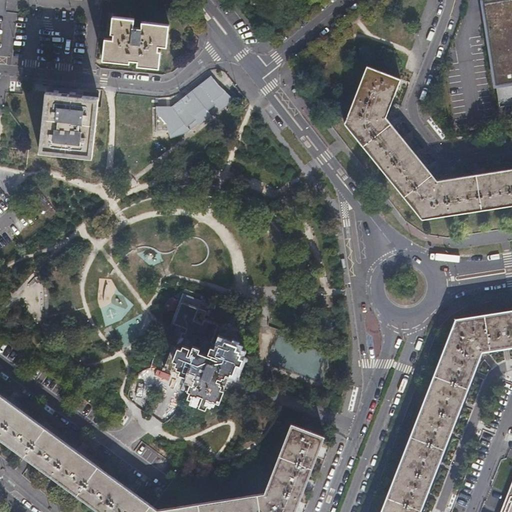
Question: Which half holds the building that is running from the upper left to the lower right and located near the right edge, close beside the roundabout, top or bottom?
top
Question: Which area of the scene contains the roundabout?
right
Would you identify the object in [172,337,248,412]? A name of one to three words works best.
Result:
house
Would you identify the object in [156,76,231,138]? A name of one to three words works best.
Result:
building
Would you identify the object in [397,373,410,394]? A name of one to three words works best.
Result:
vehicle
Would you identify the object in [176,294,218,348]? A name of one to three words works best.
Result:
building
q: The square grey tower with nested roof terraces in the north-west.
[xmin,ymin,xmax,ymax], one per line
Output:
[38,92,100,162]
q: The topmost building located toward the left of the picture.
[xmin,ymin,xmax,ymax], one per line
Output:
[102,18,170,71]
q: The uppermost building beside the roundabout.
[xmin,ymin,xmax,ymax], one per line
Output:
[344,67,512,220]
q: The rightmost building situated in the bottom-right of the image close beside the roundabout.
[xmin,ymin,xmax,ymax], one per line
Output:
[380,310,512,512]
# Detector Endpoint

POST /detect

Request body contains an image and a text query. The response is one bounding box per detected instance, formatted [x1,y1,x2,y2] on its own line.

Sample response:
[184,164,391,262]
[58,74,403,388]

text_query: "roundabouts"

[364,244,446,326]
